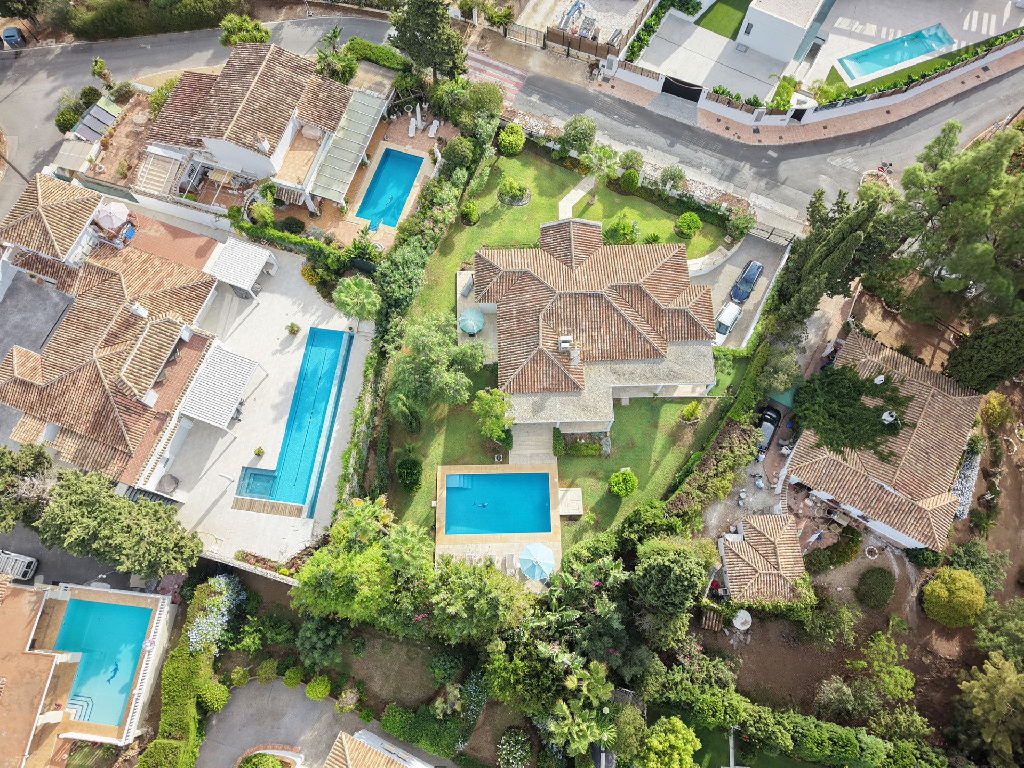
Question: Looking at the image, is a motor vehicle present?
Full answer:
Yes, a motor vehicle is visible in the scene.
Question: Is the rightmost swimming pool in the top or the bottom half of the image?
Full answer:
Seen from above, the rightmost swimming pool lies in the top half of the view.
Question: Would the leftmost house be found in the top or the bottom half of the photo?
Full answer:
It is in the bottom half that the leftmost house appears.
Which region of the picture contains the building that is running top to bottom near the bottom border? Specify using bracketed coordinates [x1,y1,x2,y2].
[0,576,77,768]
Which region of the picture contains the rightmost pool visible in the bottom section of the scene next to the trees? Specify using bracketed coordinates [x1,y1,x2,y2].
[436,463,561,545]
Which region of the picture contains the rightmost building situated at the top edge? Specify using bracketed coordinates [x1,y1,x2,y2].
[737,0,821,66]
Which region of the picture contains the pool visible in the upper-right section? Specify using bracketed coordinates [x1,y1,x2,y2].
[829,20,962,88]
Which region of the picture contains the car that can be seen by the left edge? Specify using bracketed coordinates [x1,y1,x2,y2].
[0,547,38,576]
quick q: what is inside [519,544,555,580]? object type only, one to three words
umbrella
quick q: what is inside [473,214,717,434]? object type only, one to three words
house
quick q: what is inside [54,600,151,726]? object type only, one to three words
swimming pool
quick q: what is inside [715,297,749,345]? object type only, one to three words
car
